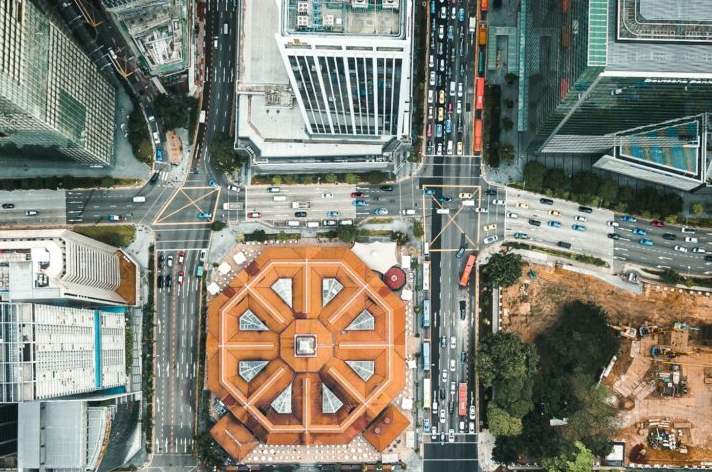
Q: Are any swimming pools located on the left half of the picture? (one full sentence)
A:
No, I see no swimming pool on the left half of the picture.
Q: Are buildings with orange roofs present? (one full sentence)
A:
Yes, there's a building with an orange roof here.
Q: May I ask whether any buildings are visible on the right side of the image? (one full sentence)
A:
Yes, a building shows up on the right side of the image.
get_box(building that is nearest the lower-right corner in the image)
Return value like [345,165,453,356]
[606,442,626,467]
